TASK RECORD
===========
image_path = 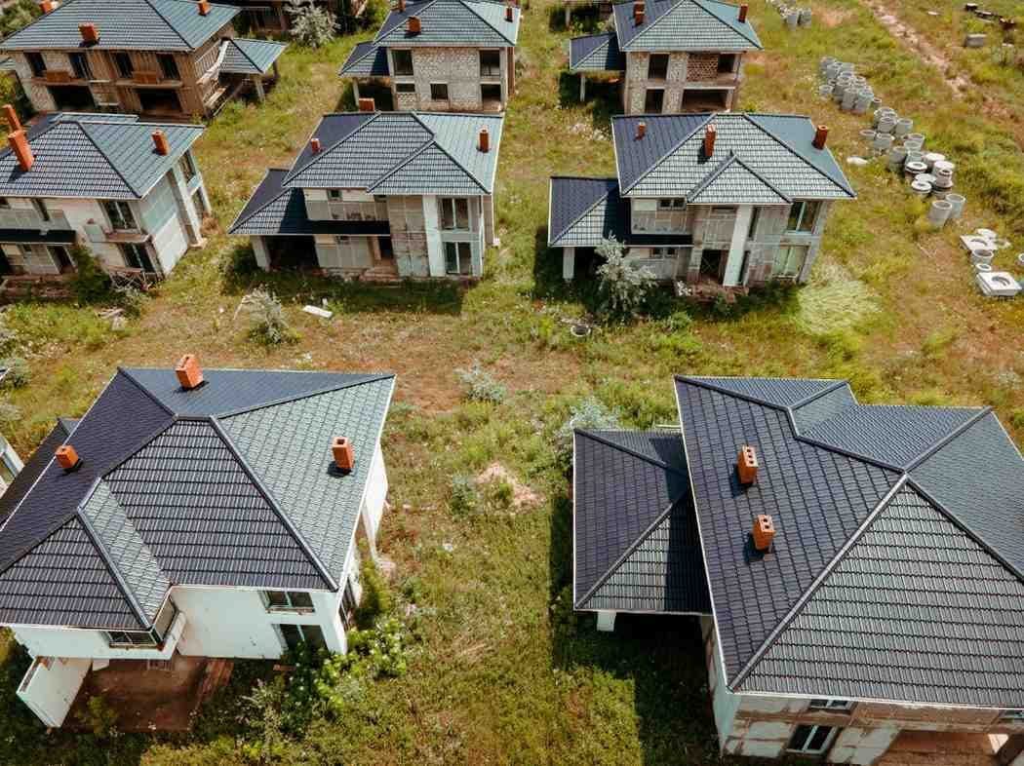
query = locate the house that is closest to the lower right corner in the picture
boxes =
[571,376,1024,766]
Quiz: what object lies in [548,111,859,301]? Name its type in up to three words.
house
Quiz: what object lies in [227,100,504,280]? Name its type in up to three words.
house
